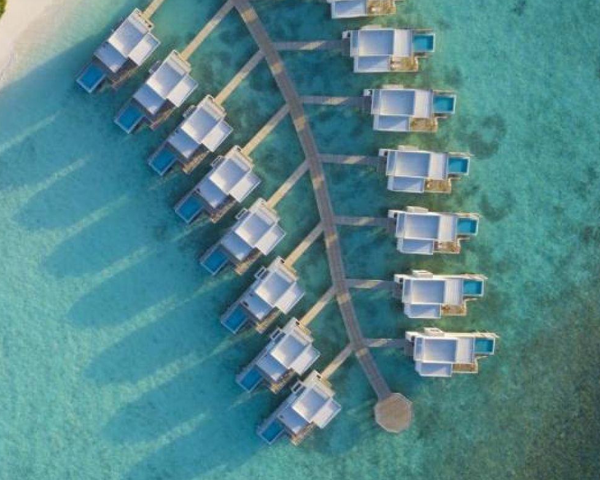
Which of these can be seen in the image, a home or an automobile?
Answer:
home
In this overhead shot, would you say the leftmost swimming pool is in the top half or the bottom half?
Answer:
top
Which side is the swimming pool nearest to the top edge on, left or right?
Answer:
right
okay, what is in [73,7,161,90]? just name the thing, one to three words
house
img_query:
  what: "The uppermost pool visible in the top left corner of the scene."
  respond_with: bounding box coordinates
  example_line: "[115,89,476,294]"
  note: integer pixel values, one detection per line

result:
[77,61,107,93]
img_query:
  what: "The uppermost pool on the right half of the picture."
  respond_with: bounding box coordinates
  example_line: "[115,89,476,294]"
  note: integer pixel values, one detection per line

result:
[411,32,433,52]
